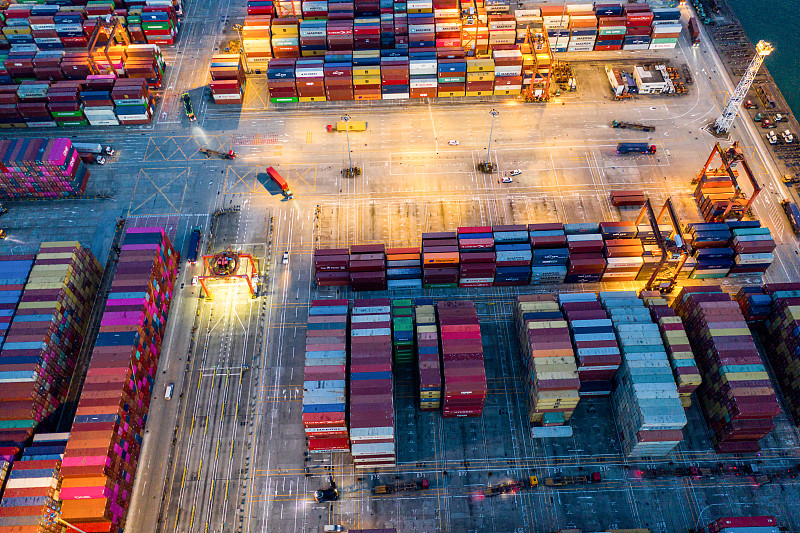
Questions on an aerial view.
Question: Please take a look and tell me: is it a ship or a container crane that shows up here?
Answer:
container crane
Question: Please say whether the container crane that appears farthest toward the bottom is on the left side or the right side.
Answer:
left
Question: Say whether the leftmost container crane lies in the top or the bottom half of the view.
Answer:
top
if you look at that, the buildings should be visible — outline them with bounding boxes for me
[613,71,632,95]
[634,67,673,94]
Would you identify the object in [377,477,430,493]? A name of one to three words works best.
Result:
vehicle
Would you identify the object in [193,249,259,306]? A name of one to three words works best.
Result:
container crane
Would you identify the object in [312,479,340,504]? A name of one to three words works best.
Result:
work vehicle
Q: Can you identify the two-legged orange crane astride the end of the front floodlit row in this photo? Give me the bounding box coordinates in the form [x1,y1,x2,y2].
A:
[523,25,559,102]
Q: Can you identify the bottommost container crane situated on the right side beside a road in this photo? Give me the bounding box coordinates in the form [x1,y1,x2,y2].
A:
[632,196,695,291]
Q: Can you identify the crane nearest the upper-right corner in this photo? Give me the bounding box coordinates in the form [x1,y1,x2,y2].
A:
[686,140,765,221]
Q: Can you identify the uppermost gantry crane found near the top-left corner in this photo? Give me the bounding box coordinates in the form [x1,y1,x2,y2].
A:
[78,20,127,74]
